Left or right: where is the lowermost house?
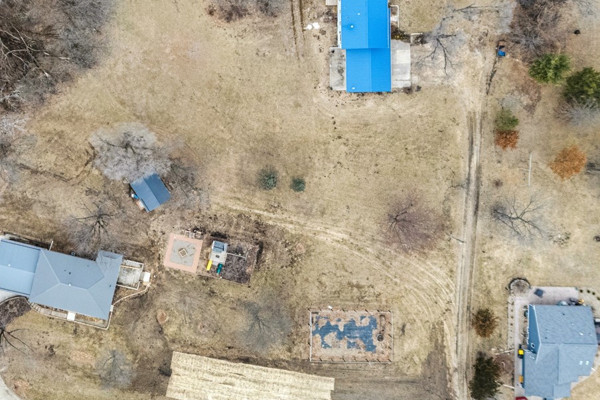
right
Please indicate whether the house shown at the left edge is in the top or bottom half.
bottom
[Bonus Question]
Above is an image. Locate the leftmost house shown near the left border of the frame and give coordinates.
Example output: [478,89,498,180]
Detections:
[0,238,123,321]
